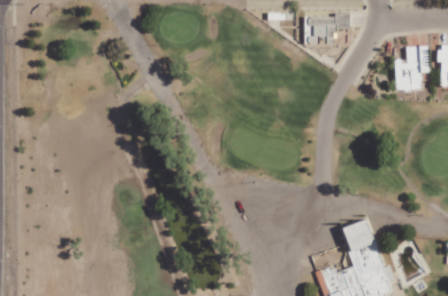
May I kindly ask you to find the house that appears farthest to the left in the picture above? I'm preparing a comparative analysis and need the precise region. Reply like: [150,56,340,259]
[305,16,336,44]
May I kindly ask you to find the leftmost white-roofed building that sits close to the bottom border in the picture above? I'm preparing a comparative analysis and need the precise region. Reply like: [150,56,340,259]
[316,220,396,296]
